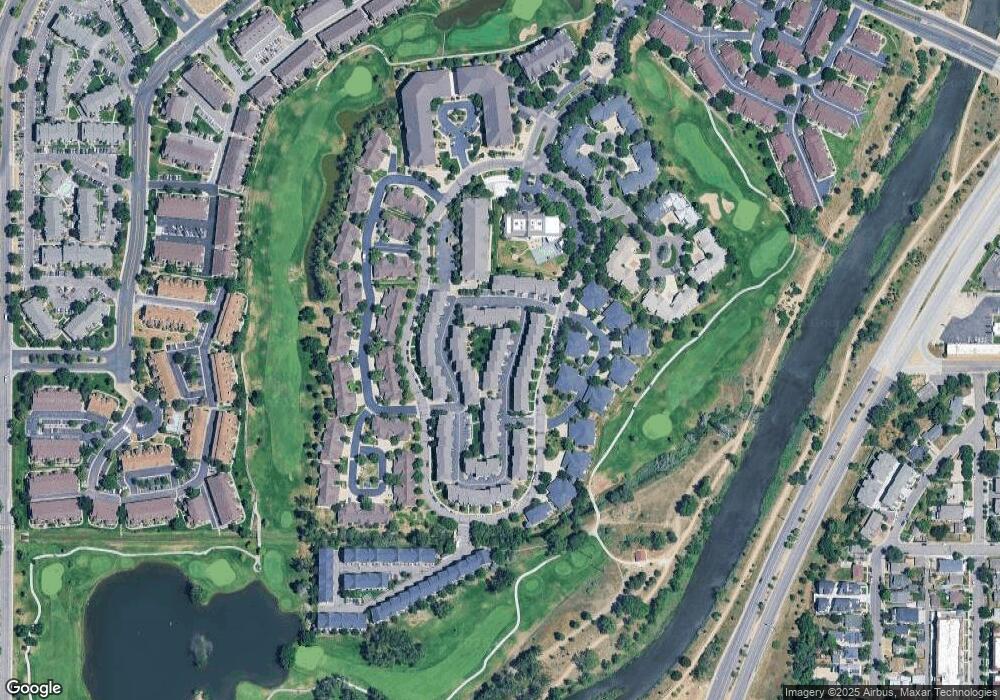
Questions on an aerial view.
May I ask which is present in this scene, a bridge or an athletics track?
bridge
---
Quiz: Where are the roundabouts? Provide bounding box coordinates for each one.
[647,235,684,272]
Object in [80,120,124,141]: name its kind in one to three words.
building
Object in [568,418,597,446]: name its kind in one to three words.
house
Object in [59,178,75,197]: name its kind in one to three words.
swimming pool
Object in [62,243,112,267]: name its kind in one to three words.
building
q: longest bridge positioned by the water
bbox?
[921,13,992,69]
